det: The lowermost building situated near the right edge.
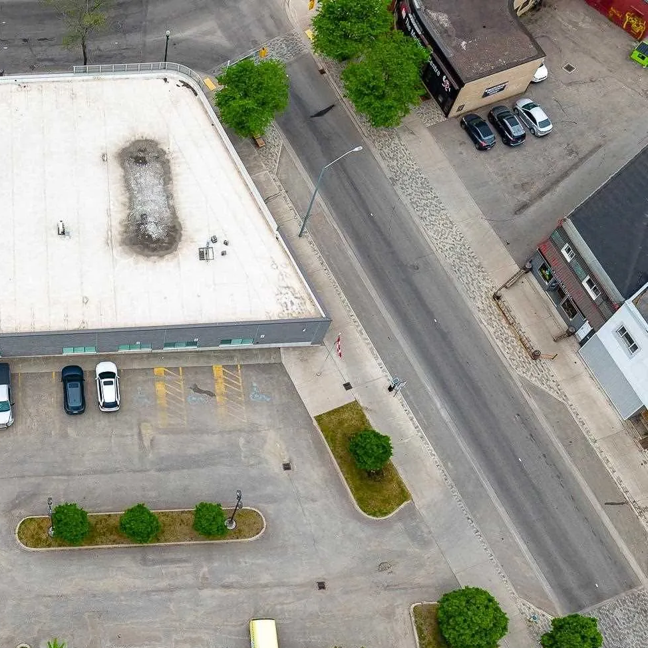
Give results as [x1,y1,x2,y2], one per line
[578,287,648,427]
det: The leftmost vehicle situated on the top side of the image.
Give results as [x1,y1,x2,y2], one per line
[460,115,497,154]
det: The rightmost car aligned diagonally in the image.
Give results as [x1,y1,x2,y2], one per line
[514,99,554,140]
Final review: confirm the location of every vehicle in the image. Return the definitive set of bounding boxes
[0,364,14,431]
[249,618,278,648]
[460,115,497,154]
[93,362,121,415]
[59,366,87,418]
[530,38,549,84]
[514,99,554,140]
[487,105,527,151]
